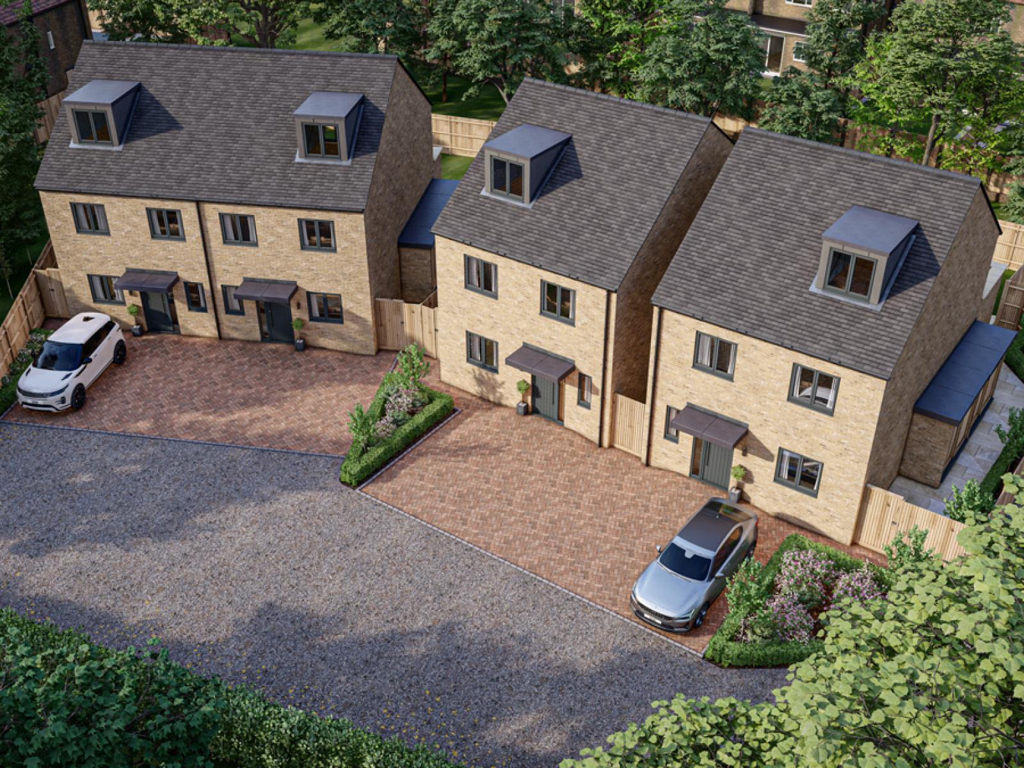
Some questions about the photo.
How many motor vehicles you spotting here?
two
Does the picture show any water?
No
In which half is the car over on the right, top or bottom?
bottom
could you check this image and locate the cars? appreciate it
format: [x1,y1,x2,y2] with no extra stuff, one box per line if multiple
[632,494,766,637]
[6,310,130,413]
